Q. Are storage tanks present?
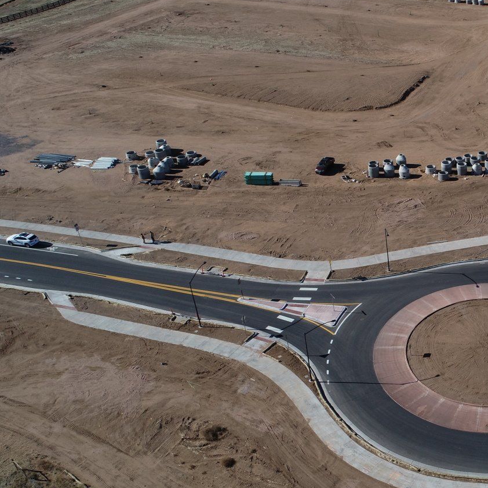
No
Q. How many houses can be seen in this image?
none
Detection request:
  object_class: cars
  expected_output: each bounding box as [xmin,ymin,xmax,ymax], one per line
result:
[314,155,337,173]
[4,230,40,248]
